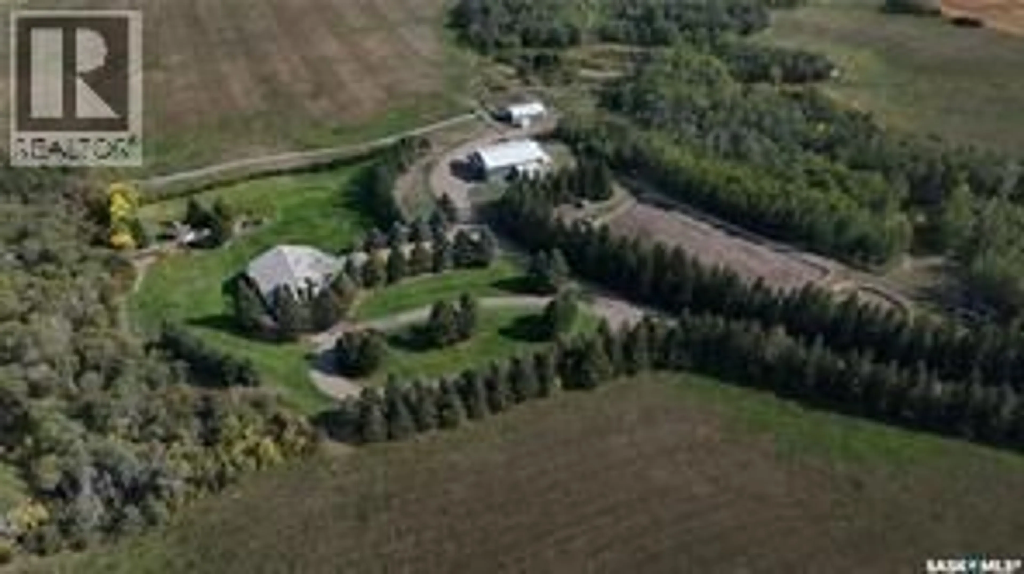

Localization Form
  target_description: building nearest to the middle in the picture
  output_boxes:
[477,141,552,184]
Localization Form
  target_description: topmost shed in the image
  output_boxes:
[505,102,547,126]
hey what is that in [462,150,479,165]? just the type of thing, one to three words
vehicle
